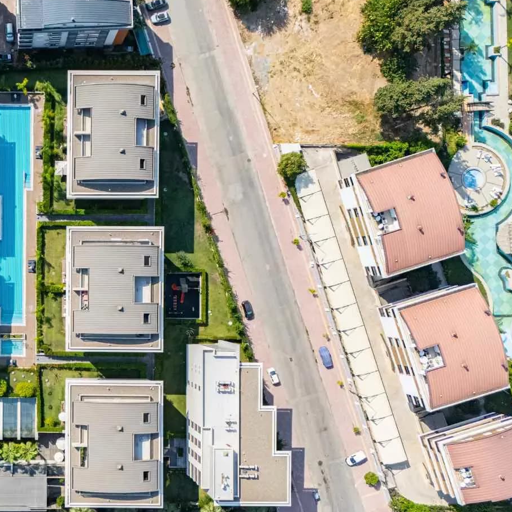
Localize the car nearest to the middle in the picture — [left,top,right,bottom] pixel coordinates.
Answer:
[242,300,254,320]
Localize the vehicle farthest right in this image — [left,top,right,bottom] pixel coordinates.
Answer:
[344,450,369,466]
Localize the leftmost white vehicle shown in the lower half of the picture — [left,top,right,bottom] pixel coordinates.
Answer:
[266,365,280,387]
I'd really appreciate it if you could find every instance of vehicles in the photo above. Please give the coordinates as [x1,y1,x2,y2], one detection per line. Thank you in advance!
[266,365,280,387]
[242,300,254,320]
[0,54,13,61]
[149,11,171,25]
[4,20,15,43]
[318,345,333,369]
[344,450,369,466]
[145,0,168,11]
